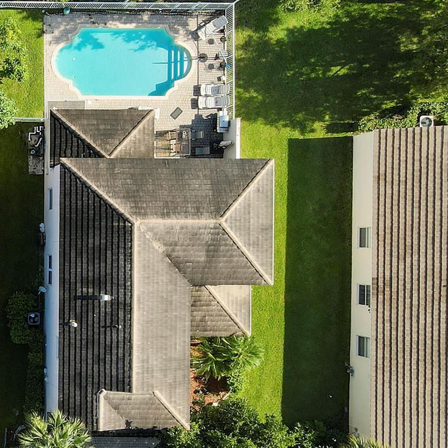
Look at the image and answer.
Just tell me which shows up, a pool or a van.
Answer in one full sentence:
The image shows a pool.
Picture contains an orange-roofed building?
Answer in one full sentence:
No, no orange-roofed building is visible in the view.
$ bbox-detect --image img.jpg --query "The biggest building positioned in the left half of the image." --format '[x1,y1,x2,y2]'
[42,99,276,435]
